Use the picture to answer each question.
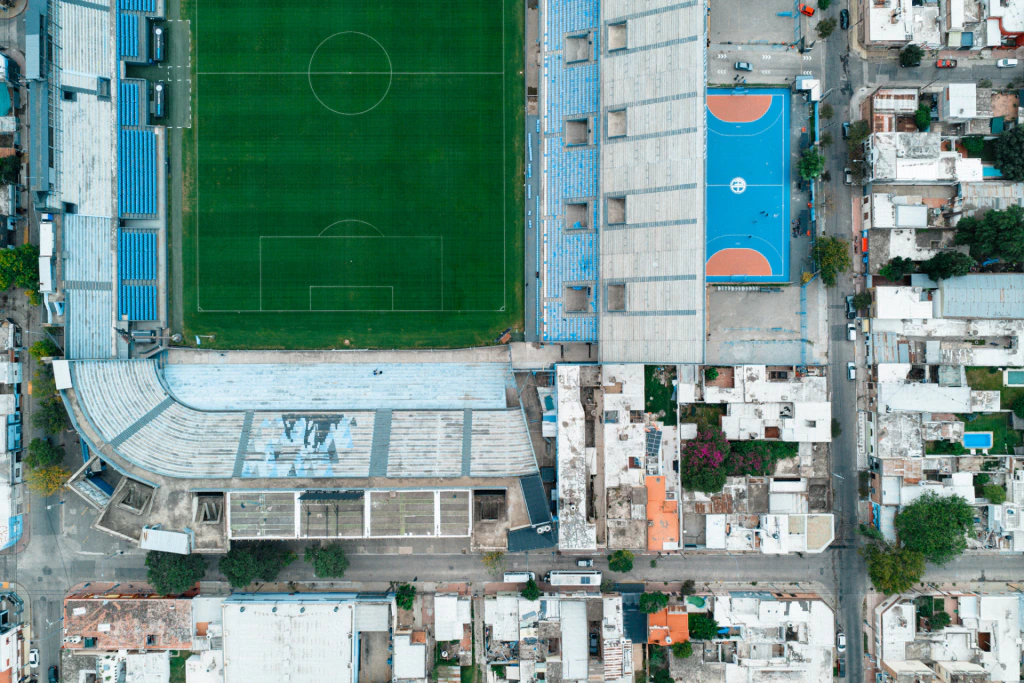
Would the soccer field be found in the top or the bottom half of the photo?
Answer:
top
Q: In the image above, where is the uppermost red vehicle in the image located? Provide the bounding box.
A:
[796,3,816,18]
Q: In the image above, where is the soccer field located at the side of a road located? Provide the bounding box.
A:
[146,0,525,352]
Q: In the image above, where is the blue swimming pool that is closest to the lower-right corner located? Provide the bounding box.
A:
[963,432,994,450]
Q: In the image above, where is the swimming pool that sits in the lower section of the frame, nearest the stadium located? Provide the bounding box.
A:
[685,596,709,612]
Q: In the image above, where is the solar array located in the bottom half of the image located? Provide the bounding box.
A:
[645,426,661,457]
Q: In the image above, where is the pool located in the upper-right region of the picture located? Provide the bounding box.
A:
[982,162,1006,179]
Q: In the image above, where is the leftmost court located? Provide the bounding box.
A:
[707,88,790,282]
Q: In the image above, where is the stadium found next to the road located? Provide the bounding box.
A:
[25,0,709,553]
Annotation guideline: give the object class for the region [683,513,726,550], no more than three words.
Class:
house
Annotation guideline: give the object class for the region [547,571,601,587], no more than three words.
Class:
vehicle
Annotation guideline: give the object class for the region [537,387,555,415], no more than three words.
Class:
shed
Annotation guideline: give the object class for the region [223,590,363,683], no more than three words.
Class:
building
